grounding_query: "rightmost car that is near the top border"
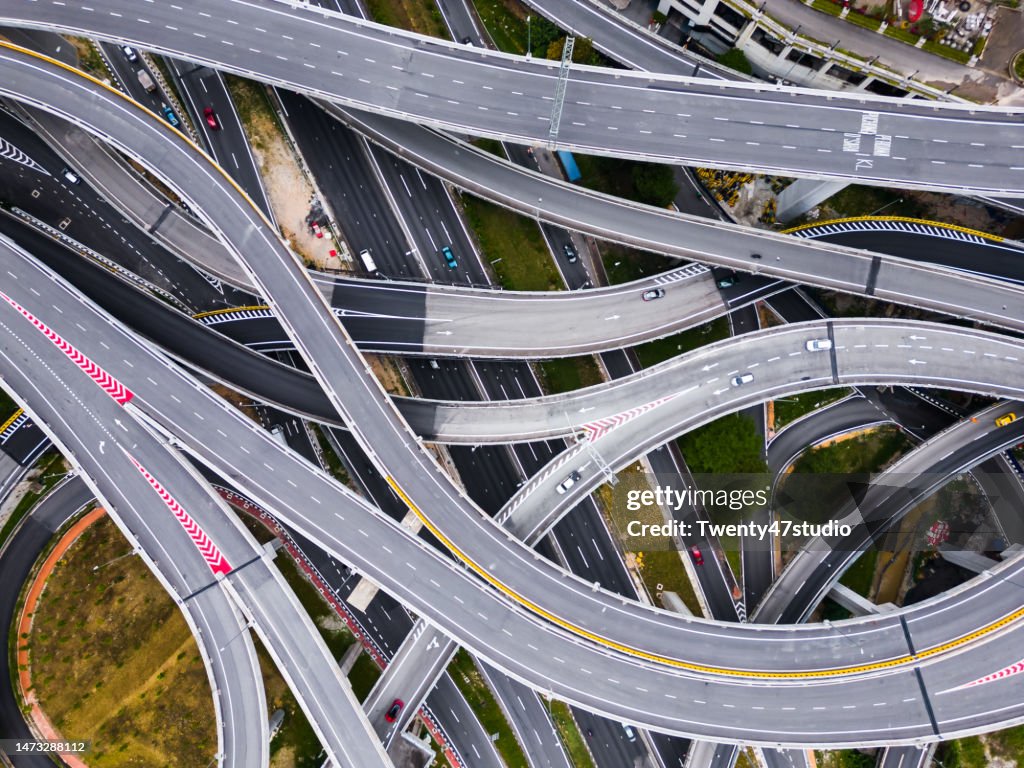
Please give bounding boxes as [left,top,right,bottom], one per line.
[460,28,474,47]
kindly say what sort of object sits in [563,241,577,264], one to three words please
car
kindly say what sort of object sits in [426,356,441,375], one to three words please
car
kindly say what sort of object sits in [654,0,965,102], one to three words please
building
